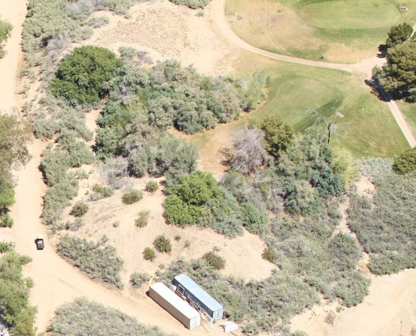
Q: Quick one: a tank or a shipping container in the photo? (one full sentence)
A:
There is a shipping container in the scene.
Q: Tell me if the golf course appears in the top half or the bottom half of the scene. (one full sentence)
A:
The golf course is in the top half of the image.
